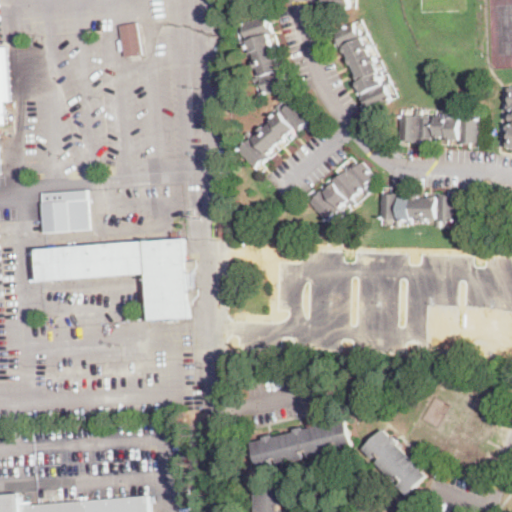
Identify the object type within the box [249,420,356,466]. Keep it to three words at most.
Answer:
building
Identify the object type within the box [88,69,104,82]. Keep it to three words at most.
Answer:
vehicle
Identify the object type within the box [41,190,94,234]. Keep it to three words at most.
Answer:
building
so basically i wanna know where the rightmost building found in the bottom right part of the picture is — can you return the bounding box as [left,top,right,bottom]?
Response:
[360,430,429,494]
